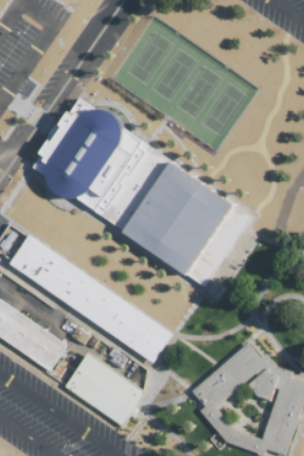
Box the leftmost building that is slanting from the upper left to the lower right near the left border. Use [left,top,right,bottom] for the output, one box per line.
[0,298,70,370]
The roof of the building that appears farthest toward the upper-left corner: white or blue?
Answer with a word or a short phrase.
blue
